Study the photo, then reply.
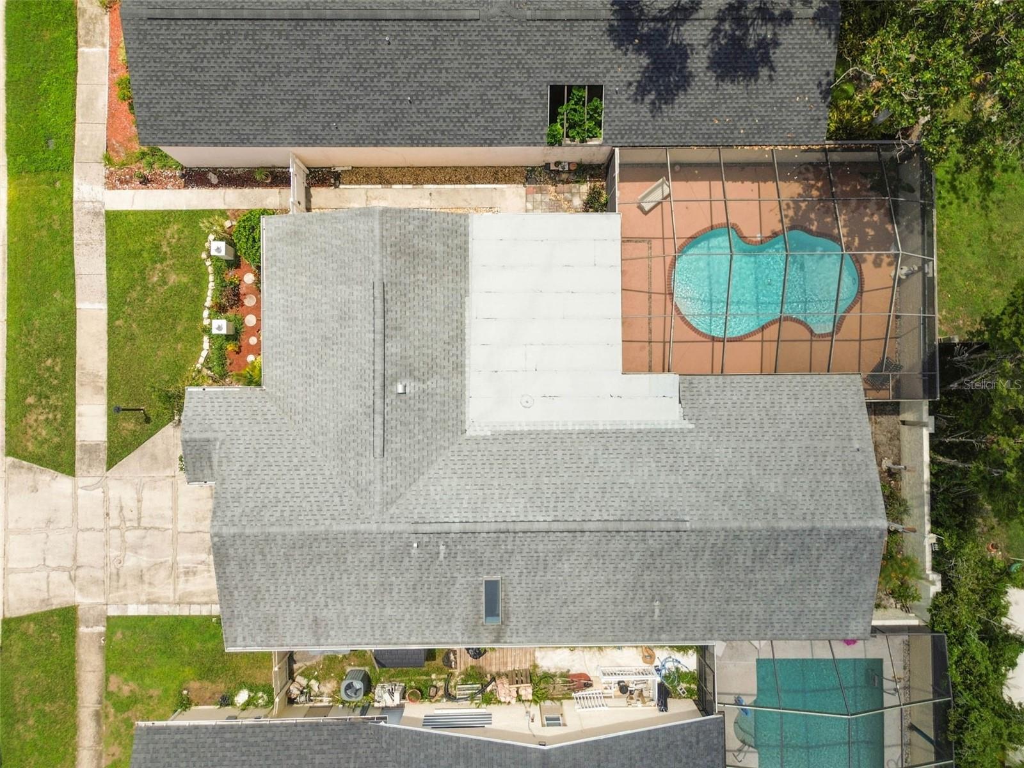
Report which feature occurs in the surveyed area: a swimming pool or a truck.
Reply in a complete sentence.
This aerial view contains a swimming pool.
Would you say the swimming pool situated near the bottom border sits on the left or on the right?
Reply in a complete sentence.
It is on the right.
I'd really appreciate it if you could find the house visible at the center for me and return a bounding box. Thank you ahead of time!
[181,206,888,654]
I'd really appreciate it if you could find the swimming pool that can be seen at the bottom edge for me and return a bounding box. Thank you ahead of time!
[734,659,884,768]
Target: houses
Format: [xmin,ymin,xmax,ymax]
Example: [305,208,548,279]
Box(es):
[181,206,888,654]
[130,703,726,768]
[121,0,839,168]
